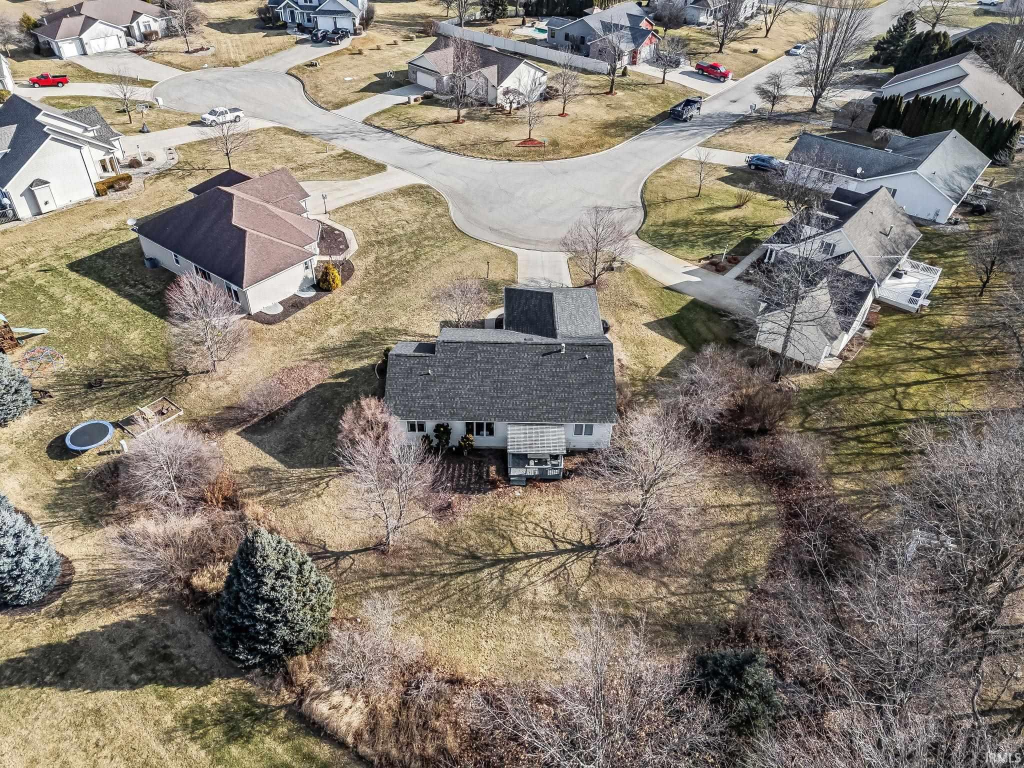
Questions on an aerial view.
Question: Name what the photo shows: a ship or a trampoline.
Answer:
trampoline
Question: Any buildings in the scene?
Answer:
Yes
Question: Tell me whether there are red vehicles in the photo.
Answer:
Yes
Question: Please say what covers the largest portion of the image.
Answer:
grass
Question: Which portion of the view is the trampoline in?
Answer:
left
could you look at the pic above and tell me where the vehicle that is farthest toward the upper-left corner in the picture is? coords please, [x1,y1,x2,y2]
[25,72,70,88]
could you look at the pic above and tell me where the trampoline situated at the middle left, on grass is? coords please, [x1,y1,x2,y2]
[64,419,121,463]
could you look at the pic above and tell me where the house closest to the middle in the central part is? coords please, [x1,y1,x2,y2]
[383,286,617,448]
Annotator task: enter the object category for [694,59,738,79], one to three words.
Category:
vehicle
